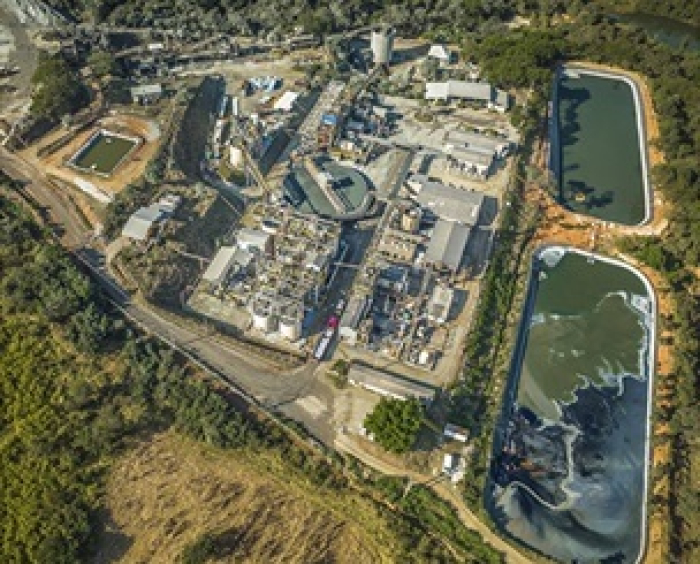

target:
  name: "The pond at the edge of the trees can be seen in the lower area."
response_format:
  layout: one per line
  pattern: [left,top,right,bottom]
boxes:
[485,244,658,564]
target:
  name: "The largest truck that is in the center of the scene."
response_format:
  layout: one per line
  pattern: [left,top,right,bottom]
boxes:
[315,312,341,360]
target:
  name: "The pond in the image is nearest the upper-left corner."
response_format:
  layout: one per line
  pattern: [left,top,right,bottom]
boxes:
[67,130,142,177]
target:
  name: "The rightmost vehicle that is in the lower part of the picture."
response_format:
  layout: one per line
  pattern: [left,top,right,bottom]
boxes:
[452,461,465,481]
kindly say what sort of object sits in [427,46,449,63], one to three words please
house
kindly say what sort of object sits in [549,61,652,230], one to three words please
pond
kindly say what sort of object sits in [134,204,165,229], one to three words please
shed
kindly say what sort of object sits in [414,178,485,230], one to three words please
building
